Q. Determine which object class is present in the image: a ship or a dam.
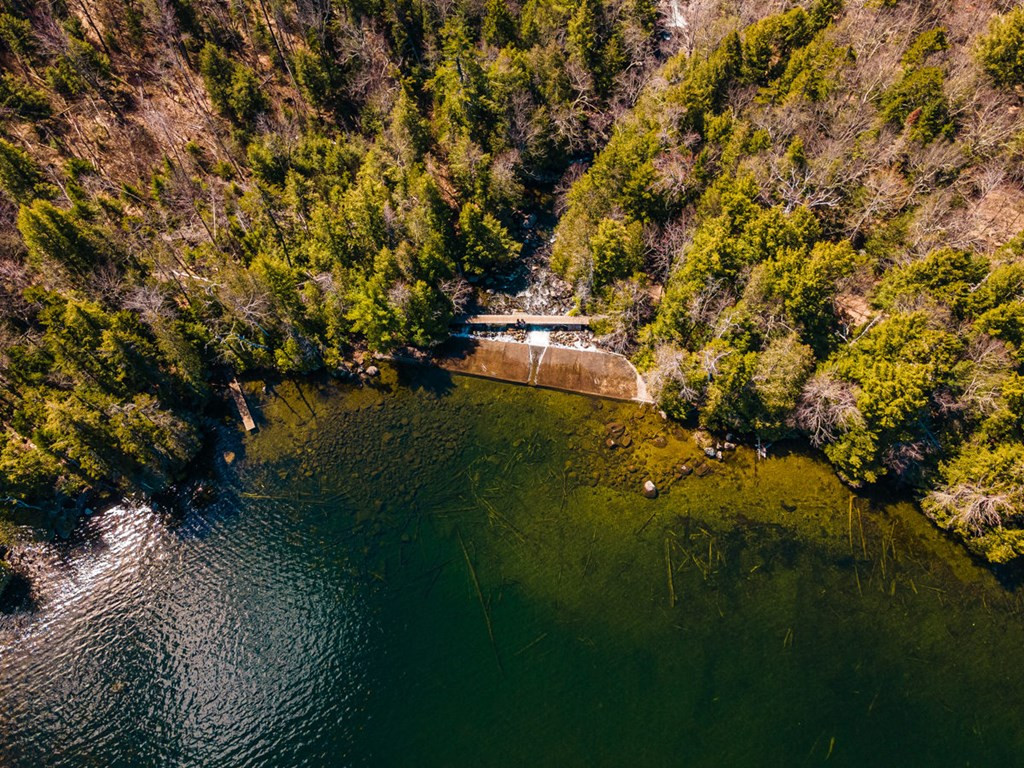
dam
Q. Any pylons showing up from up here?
No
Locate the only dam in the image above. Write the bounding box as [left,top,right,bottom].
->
[432,334,655,405]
